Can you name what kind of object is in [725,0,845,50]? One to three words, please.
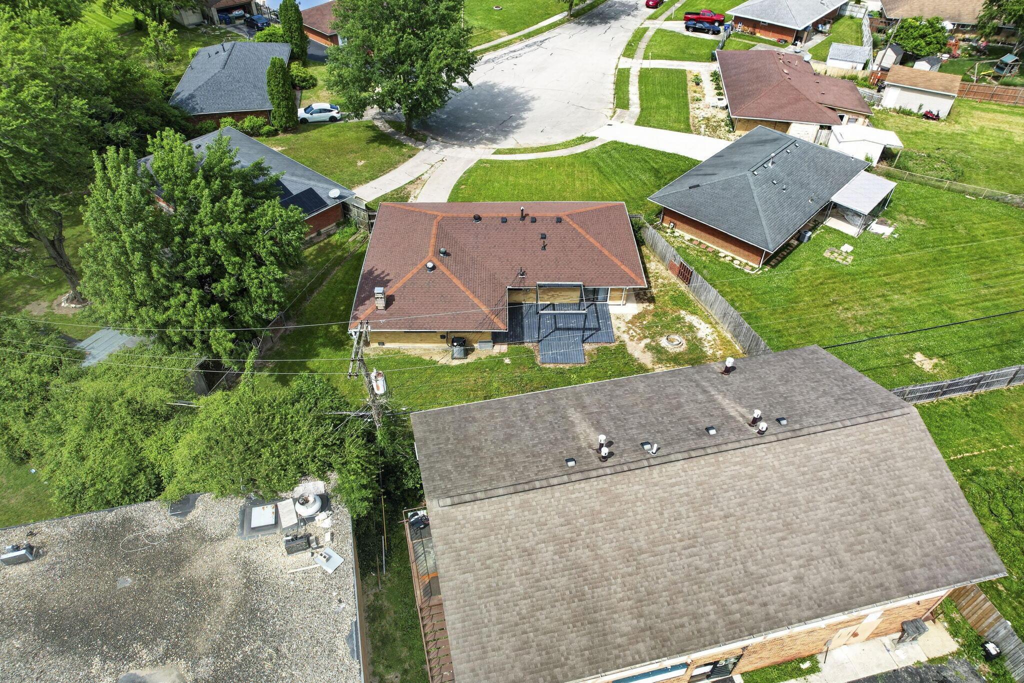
house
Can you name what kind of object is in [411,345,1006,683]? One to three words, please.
building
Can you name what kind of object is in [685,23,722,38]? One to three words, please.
car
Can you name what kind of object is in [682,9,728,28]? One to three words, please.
vehicle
